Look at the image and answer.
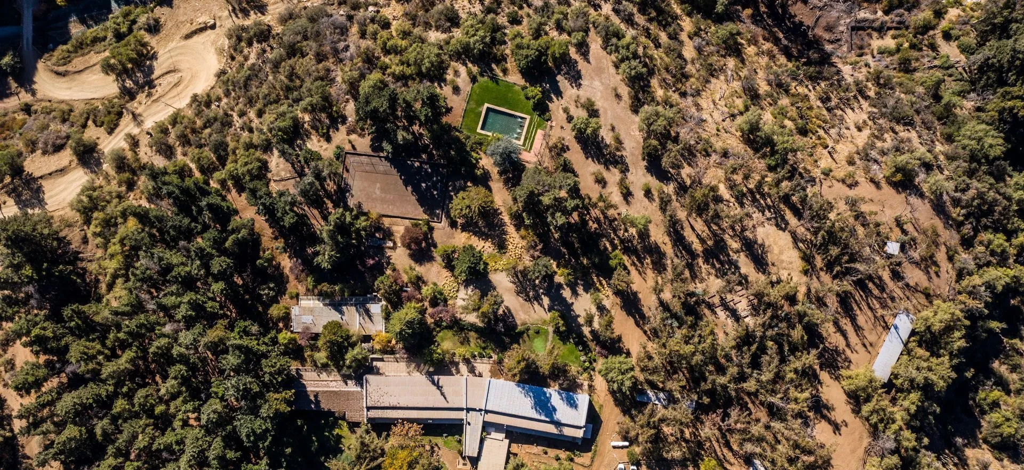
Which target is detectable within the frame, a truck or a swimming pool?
swimming pool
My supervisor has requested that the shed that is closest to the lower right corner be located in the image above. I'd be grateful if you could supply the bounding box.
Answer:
[867,312,914,382]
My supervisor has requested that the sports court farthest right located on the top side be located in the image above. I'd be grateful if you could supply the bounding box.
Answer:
[344,154,446,221]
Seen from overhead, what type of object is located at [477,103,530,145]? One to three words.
swimming pool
